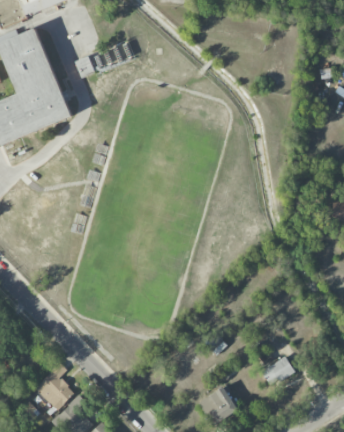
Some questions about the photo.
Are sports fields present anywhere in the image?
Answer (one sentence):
Yes, a sports field appears in the view.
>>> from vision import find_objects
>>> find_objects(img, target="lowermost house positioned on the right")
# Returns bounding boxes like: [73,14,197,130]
[202,388,236,422]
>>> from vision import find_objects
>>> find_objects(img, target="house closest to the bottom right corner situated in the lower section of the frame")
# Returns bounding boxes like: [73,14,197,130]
[264,358,294,386]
